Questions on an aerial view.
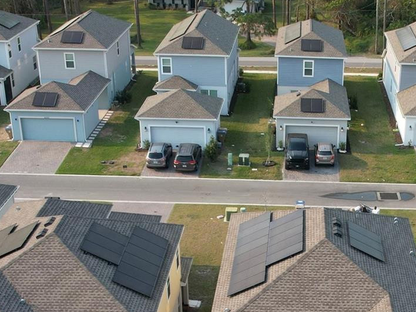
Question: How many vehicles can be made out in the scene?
4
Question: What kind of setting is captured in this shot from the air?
residential area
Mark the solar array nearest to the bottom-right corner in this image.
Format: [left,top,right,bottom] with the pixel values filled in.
[349,218,387,259]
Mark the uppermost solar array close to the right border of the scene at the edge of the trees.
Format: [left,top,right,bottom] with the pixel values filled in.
[396,25,416,49]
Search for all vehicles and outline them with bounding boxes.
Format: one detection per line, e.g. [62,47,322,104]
[174,141,202,168]
[311,138,337,164]
[145,138,174,167]
[283,135,311,169]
